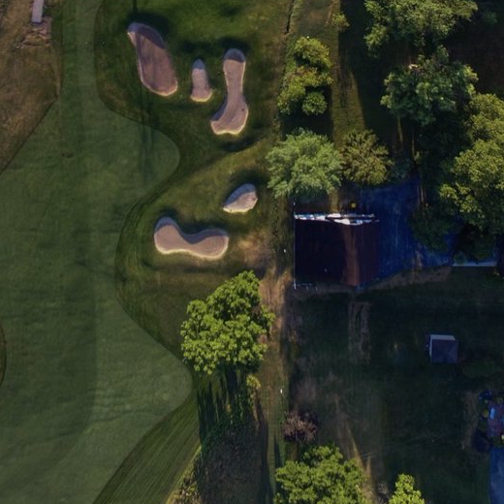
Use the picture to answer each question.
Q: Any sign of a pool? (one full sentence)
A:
No, there's no pool here.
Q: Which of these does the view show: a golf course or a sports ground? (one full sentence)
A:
This looks like a golf course.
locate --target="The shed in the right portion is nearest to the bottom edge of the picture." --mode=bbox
[428,334,457,364]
